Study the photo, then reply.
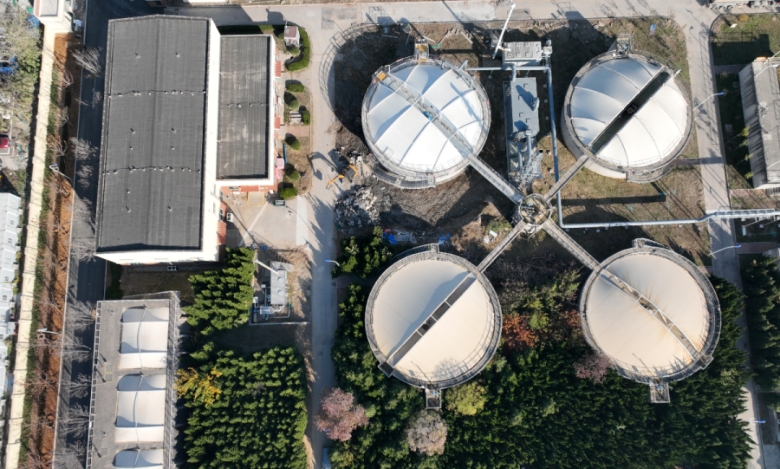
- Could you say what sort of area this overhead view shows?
industrial area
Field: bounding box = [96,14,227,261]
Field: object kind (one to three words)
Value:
building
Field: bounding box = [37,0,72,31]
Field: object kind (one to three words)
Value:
building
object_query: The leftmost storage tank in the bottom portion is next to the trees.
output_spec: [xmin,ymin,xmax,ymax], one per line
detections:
[366,244,503,409]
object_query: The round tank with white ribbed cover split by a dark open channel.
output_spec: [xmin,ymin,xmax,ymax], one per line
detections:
[558,36,696,191]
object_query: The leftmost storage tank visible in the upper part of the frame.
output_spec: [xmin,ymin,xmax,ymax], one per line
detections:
[362,35,491,195]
